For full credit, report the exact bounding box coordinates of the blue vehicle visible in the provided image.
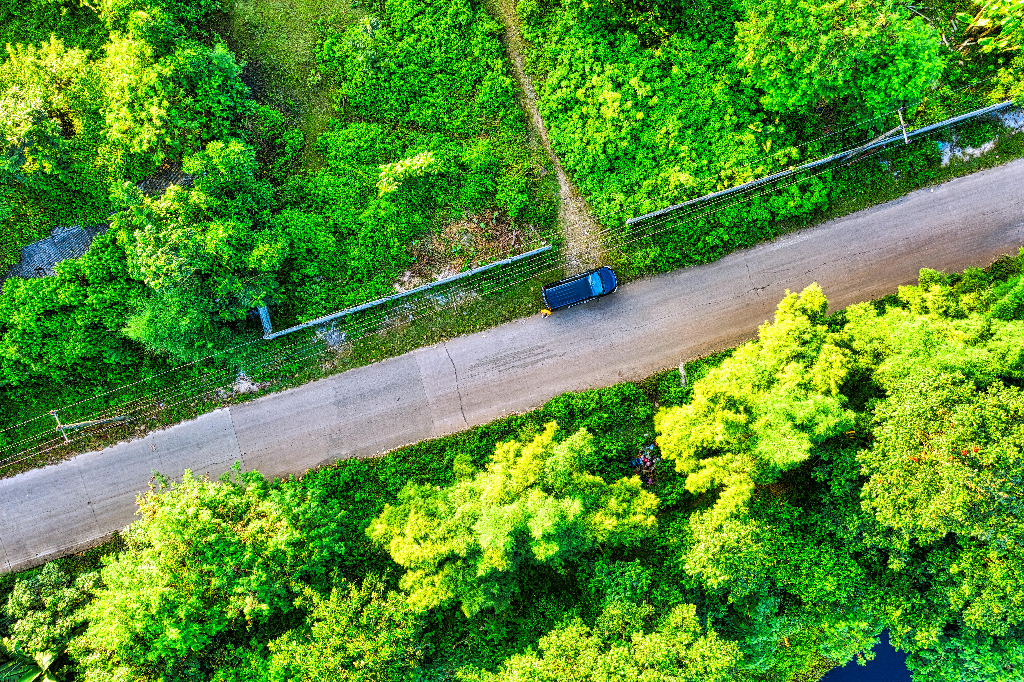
[539,265,622,314]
